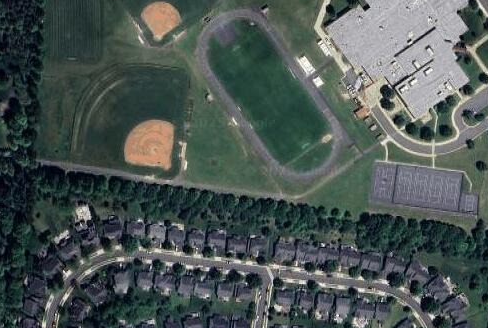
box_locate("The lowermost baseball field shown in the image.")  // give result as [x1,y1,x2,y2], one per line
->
[124,120,174,172]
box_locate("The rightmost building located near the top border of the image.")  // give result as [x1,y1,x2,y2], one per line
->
[325,0,468,118]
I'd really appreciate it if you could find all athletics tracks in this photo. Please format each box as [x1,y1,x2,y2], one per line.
[194,9,348,180]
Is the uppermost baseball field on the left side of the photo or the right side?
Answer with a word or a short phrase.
left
